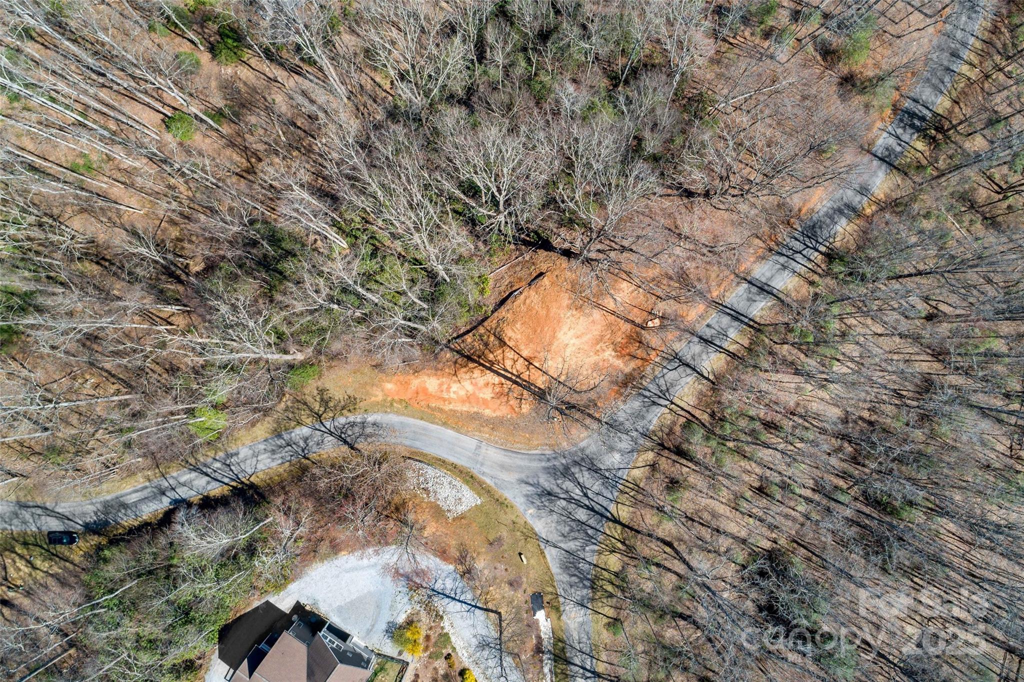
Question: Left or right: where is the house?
left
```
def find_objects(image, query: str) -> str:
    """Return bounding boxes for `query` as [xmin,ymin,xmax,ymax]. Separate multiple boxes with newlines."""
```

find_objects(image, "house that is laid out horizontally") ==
[231,618,375,682]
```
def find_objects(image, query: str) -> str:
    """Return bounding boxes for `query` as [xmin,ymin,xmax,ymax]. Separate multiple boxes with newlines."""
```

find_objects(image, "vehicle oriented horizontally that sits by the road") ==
[44,532,76,547]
